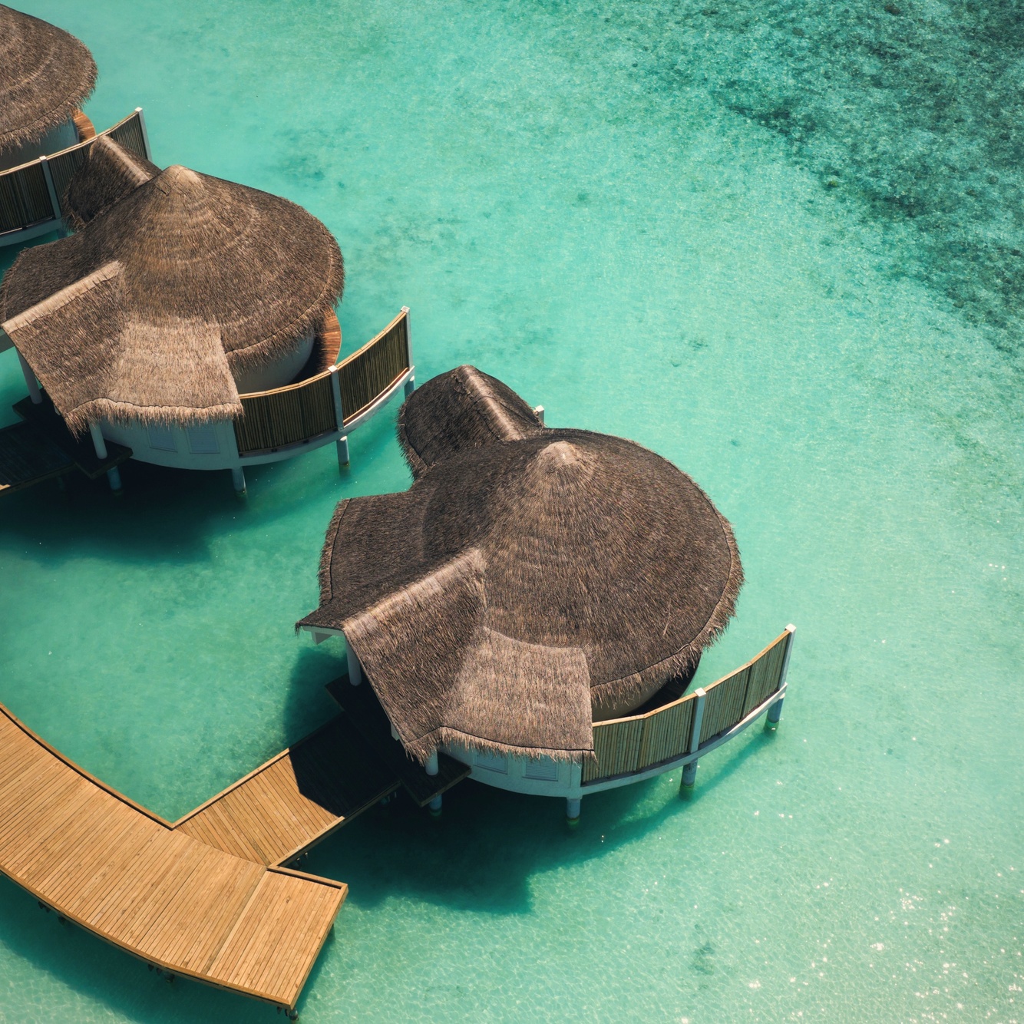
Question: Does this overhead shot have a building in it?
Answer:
Yes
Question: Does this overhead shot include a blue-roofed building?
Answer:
No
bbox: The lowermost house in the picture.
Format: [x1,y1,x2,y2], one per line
[285,360,746,842]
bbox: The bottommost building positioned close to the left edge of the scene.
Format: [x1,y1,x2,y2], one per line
[0,136,357,519]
